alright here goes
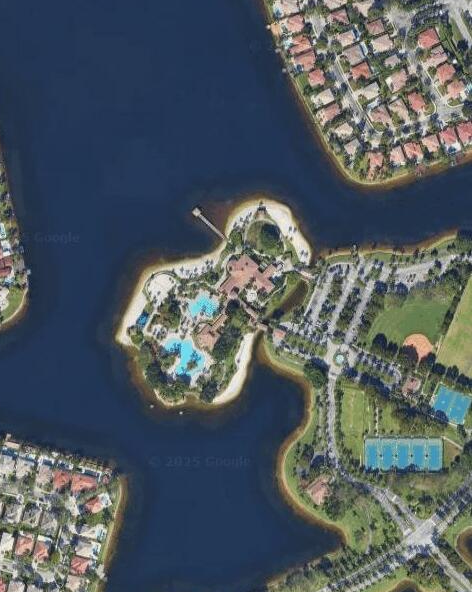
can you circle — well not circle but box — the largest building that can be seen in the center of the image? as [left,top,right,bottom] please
[215,252,279,298]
